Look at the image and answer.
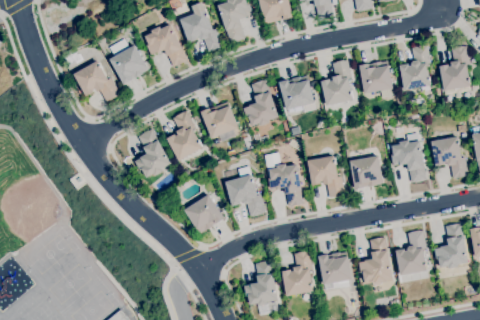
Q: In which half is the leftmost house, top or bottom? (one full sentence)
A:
You can find the leftmost house in the top half.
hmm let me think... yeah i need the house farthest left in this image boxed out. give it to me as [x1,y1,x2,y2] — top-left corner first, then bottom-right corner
[72,62,117,102]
